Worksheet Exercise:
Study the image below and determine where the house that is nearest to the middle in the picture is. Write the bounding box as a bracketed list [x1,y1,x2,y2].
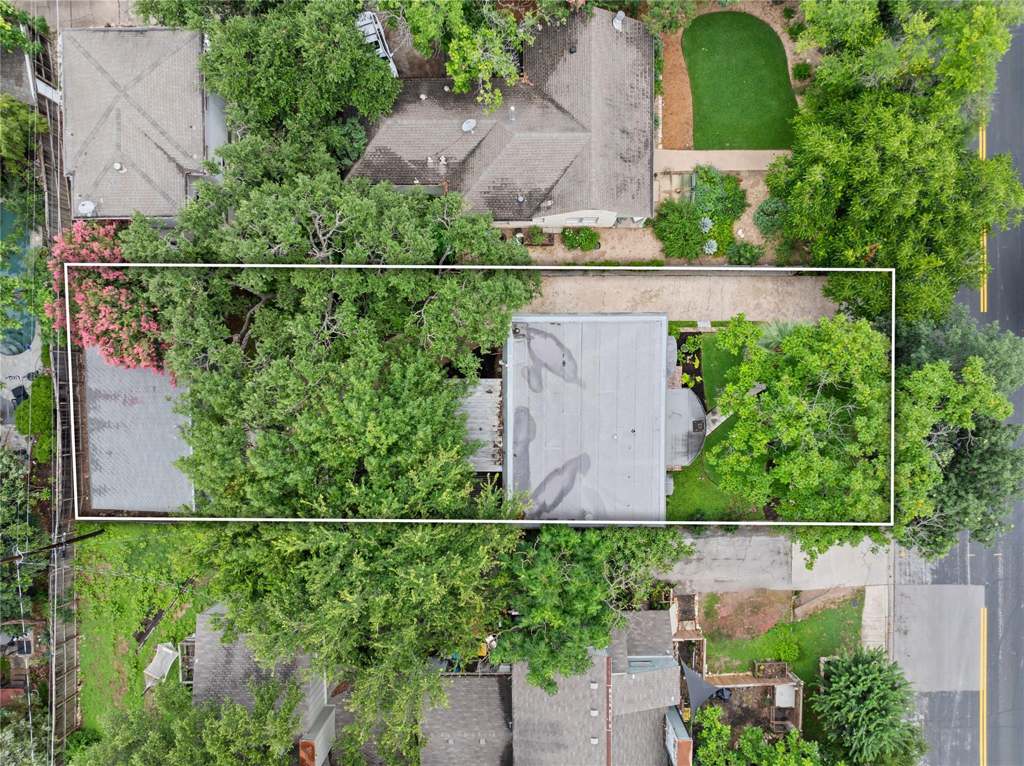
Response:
[499,314,707,526]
